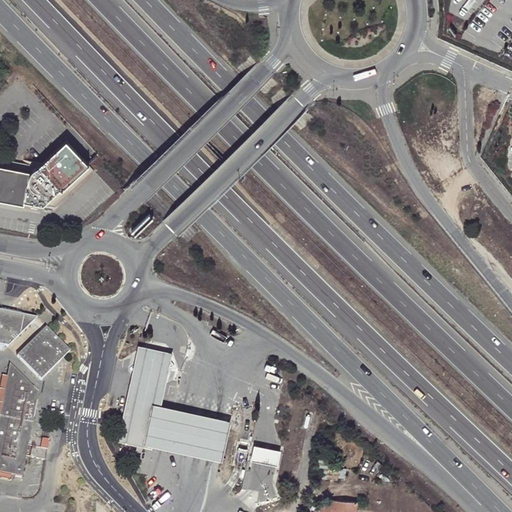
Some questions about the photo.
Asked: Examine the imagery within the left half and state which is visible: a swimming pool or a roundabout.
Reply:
roundabout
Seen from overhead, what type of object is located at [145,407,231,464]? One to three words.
building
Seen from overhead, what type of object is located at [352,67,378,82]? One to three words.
vehicle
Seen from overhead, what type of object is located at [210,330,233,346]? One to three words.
vehicle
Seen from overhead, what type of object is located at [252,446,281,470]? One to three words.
building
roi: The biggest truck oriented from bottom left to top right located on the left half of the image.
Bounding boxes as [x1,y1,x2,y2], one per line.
[150,490,172,511]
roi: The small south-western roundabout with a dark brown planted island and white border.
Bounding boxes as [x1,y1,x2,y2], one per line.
[56,230,148,322]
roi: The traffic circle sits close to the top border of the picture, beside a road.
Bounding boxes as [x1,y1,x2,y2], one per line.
[278,0,428,89]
